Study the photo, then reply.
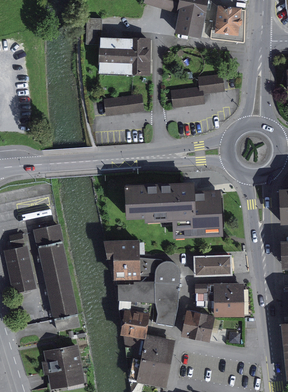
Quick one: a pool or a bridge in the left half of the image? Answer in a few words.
bridge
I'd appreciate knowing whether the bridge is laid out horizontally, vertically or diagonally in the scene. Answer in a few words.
horizontally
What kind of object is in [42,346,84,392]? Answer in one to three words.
house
